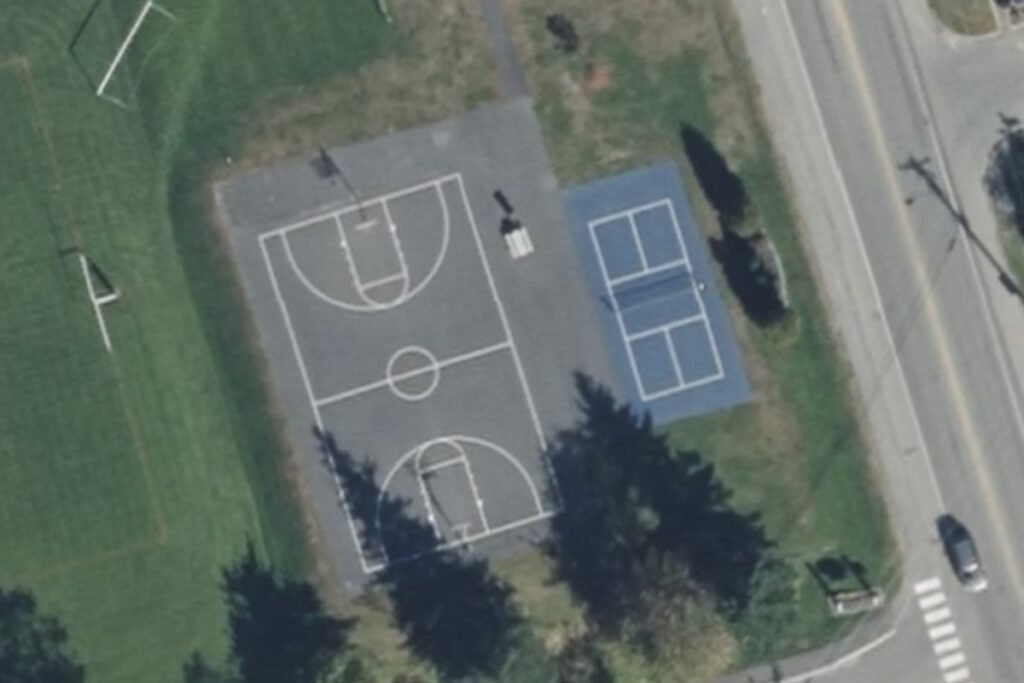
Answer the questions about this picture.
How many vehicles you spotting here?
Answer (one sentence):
Only 1 vehicle is visible.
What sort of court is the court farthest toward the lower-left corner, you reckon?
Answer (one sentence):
The court farthest toward the lower-left corner is a basketball court.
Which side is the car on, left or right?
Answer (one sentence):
The car sits on the right side.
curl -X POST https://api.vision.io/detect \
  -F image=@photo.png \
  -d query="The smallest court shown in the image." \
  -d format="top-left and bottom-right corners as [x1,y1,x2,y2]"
[567,163,752,424]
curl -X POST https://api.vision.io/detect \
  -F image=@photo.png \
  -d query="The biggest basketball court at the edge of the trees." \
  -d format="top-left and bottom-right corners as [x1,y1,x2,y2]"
[215,98,646,598]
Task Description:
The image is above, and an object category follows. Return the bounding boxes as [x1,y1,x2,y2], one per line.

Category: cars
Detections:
[947,529,986,593]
